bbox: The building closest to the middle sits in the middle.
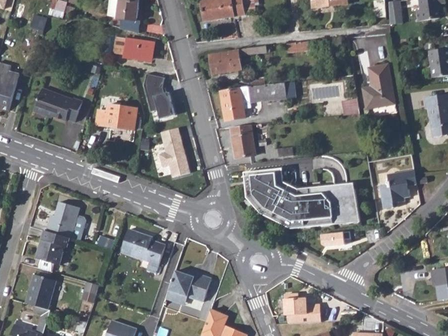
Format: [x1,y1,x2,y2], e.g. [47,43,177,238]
[229,125,256,161]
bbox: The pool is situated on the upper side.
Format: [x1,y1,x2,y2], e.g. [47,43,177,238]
[310,85,340,100]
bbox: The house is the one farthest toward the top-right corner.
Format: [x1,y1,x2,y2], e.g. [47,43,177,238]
[416,0,442,23]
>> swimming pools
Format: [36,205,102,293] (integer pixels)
[310,85,340,100]
[157,326,169,336]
